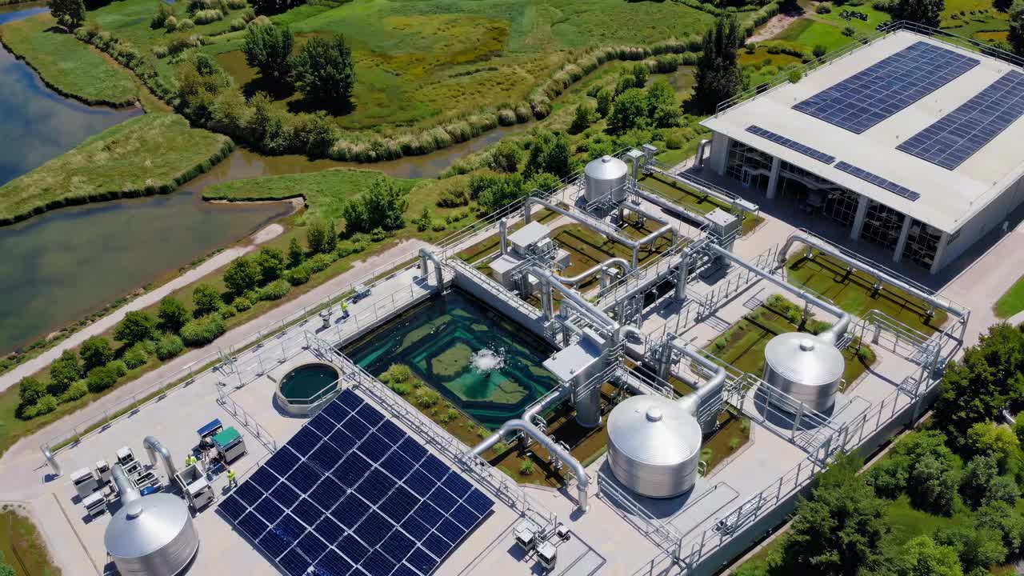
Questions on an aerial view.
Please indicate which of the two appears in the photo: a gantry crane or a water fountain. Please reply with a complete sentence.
Looking from above, you can make out a water fountain.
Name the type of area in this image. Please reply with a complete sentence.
This looks like an industrial area.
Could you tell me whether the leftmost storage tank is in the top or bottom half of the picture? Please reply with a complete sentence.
It is in the bottom half that the leftmost storage tank appears.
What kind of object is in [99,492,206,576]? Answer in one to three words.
storage tank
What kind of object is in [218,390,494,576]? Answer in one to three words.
solar array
